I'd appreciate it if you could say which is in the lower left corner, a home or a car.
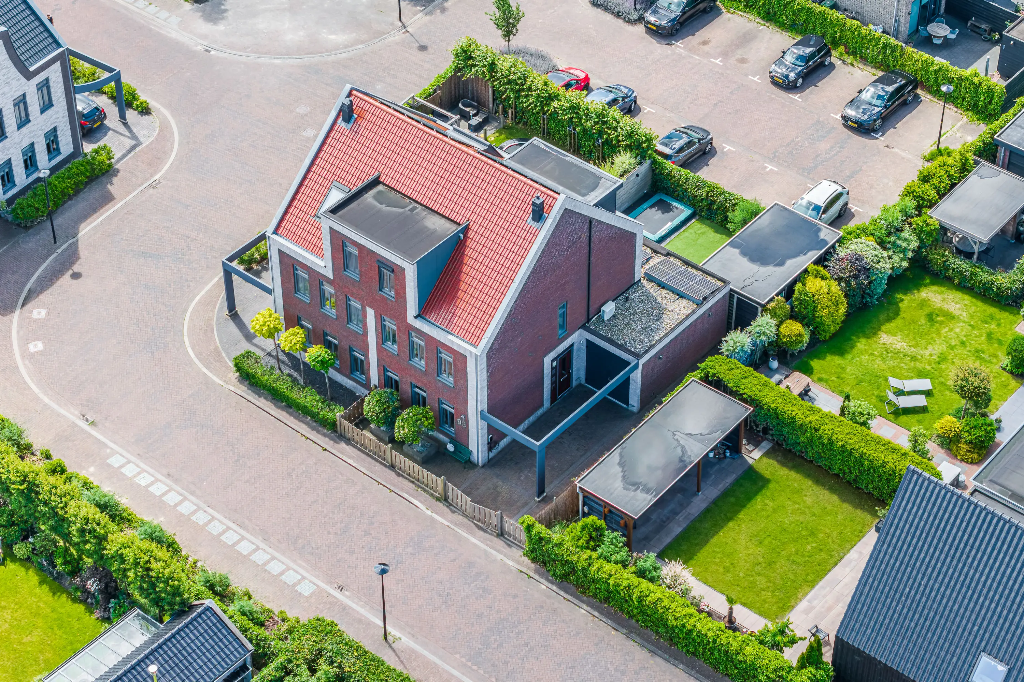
home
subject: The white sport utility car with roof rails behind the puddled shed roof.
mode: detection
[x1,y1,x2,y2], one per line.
[785,180,851,225]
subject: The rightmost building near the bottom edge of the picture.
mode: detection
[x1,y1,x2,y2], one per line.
[834,458,1024,682]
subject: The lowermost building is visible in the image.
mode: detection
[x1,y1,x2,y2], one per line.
[35,592,258,682]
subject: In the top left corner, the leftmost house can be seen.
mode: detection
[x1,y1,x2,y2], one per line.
[0,0,128,204]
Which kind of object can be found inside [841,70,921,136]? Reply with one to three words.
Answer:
car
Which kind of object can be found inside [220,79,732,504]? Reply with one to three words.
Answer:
house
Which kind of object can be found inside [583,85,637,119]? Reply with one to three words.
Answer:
car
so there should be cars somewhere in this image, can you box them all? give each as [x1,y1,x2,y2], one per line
[74,92,110,133]
[642,0,717,39]
[654,127,713,177]
[537,65,589,97]
[583,85,637,119]
[767,33,833,89]
[785,180,851,225]
[841,70,921,136]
